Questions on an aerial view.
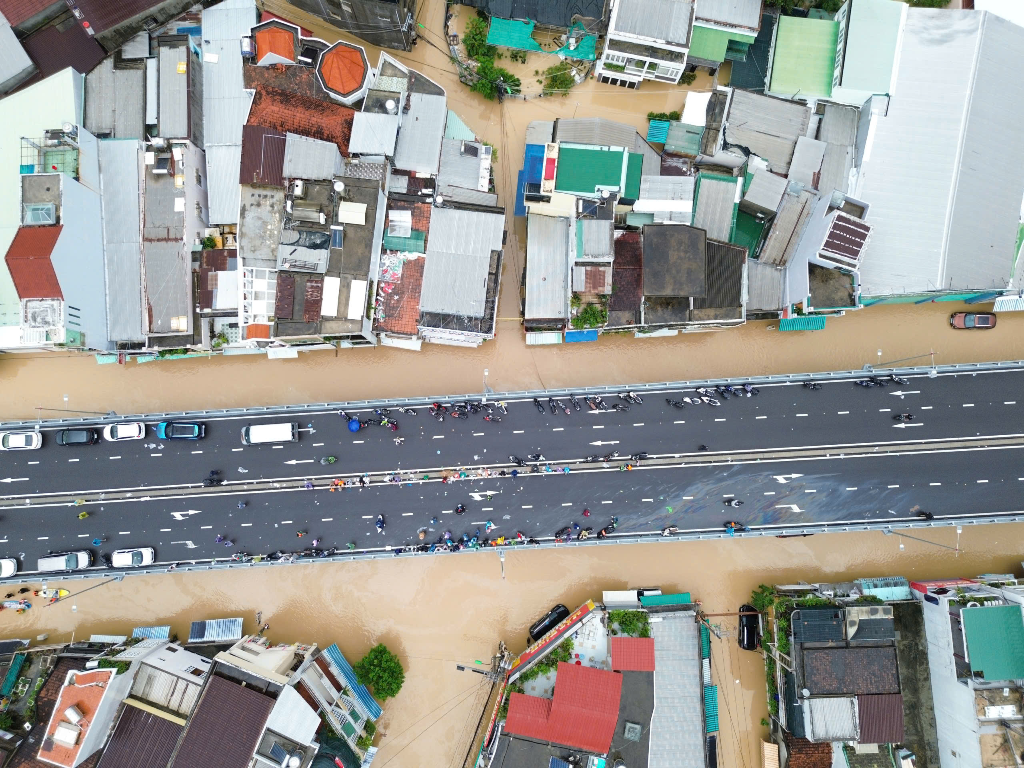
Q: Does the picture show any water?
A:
Yes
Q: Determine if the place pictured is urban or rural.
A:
urban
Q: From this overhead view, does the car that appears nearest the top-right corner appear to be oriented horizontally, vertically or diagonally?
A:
horizontally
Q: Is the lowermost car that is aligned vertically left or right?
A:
right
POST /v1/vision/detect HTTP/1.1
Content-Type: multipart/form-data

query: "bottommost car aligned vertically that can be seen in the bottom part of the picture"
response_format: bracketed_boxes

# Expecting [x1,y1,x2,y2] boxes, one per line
[737,604,759,649]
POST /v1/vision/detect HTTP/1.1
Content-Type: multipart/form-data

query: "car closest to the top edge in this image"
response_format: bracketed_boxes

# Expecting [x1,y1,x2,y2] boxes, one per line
[950,309,997,332]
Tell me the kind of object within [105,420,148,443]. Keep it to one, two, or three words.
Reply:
car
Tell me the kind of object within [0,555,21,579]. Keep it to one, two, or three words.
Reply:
car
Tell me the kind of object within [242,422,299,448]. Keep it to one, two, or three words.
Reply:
vehicle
